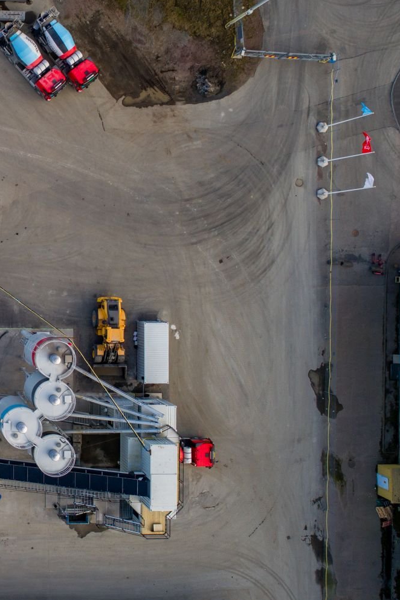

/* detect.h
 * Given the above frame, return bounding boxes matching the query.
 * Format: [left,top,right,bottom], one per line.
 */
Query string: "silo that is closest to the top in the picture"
[16,328,78,380]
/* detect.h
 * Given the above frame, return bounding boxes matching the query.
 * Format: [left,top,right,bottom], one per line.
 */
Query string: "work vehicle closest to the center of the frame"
[87,296,129,378]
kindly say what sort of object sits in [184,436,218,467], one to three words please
truck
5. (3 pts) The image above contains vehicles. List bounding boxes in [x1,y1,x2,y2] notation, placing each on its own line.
[184,436,218,467]
[87,296,129,378]
[0,20,73,107]
[29,8,107,98]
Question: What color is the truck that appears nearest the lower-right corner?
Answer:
red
